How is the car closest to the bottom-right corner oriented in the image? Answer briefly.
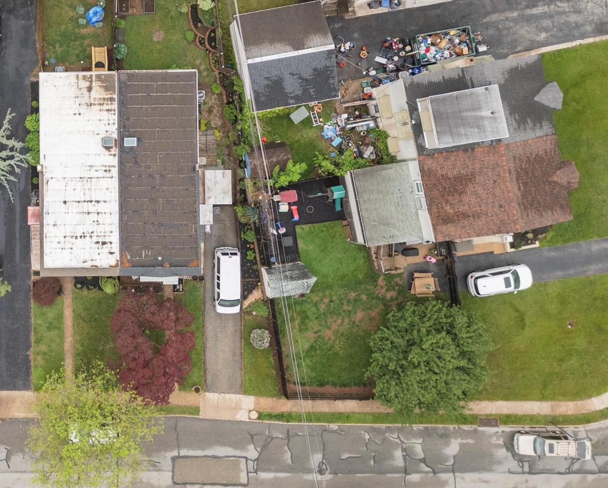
from left to right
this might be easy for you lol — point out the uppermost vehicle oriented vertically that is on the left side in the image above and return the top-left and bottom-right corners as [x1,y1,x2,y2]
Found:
[215,247,247,315]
